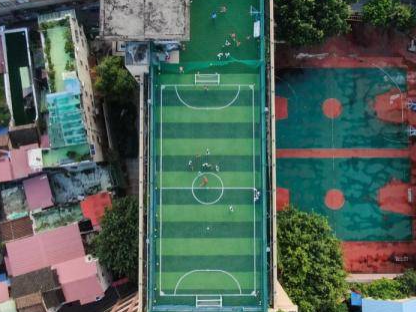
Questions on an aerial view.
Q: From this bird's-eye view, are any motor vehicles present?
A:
No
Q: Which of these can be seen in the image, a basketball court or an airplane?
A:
basketball court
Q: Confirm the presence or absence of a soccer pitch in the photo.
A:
Yes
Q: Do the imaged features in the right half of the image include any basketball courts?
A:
Yes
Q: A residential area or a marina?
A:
residential area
